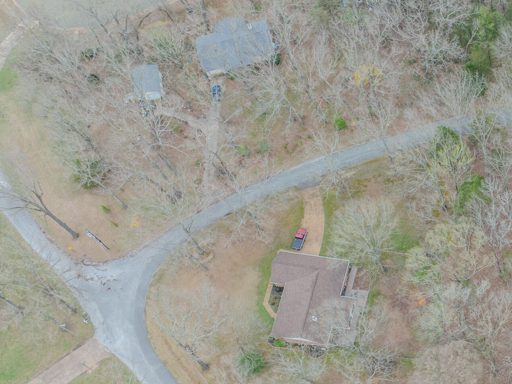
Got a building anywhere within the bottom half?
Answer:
Yes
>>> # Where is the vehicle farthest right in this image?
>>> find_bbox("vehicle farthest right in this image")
[291,228,308,252]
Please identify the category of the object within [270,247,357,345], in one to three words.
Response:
house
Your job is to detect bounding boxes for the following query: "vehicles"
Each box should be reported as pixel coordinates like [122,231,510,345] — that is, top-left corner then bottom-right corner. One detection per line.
[210,83,222,105]
[291,228,308,252]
